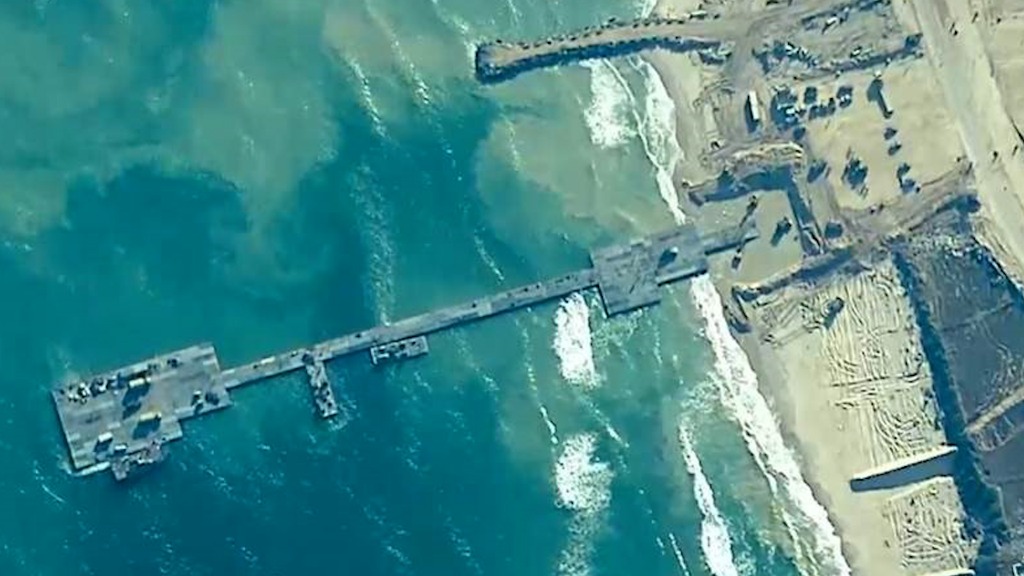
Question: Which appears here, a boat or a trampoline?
boat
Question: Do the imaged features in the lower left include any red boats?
No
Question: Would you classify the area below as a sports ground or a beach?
beach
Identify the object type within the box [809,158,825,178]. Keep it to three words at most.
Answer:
vehicle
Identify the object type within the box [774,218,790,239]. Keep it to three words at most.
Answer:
vehicle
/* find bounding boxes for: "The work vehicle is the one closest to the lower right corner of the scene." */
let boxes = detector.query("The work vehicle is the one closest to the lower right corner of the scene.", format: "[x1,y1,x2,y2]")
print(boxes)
[828,291,847,318]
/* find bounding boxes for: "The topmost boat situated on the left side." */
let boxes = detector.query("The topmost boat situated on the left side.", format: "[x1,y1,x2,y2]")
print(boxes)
[371,336,429,364]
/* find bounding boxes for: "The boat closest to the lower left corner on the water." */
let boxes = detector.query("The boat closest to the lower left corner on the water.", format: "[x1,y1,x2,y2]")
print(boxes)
[109,457,129,483]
